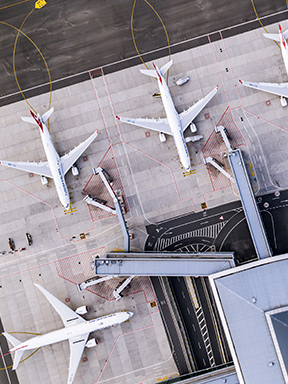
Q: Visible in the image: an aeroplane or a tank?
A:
aeroplane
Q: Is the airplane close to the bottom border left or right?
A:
left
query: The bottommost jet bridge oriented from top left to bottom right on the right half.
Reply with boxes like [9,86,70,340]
[205,156,237,184]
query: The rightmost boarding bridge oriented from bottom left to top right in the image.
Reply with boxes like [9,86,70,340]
[114,275,140,300]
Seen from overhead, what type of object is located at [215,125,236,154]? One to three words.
jet bridge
